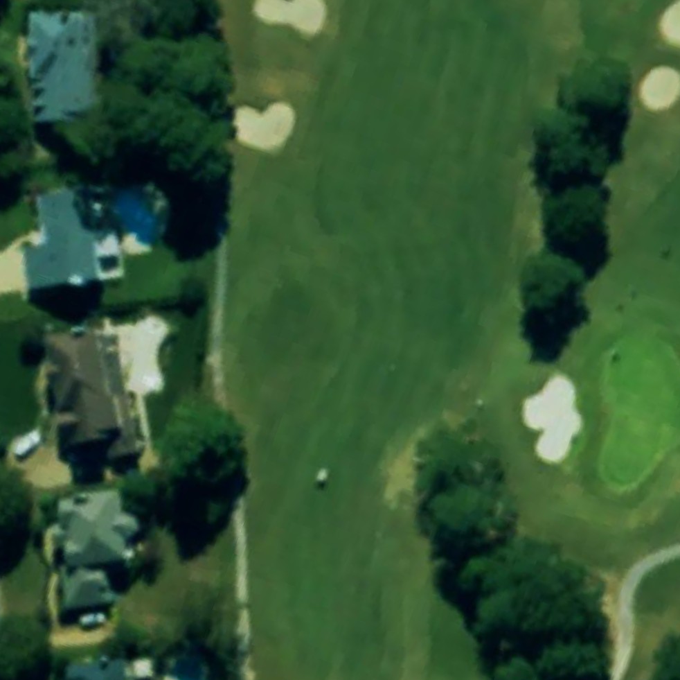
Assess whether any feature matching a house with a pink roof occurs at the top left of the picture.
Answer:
No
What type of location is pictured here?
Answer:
golf course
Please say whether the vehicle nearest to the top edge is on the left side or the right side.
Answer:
left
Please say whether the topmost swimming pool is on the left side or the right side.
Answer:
left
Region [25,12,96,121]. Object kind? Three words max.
house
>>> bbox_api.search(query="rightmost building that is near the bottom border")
[133,657,154,679]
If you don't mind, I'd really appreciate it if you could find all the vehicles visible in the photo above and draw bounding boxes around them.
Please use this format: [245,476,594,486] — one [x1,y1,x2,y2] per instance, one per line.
[79,614,105,627]
[316,469,326,483]
[13,430,40,457]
